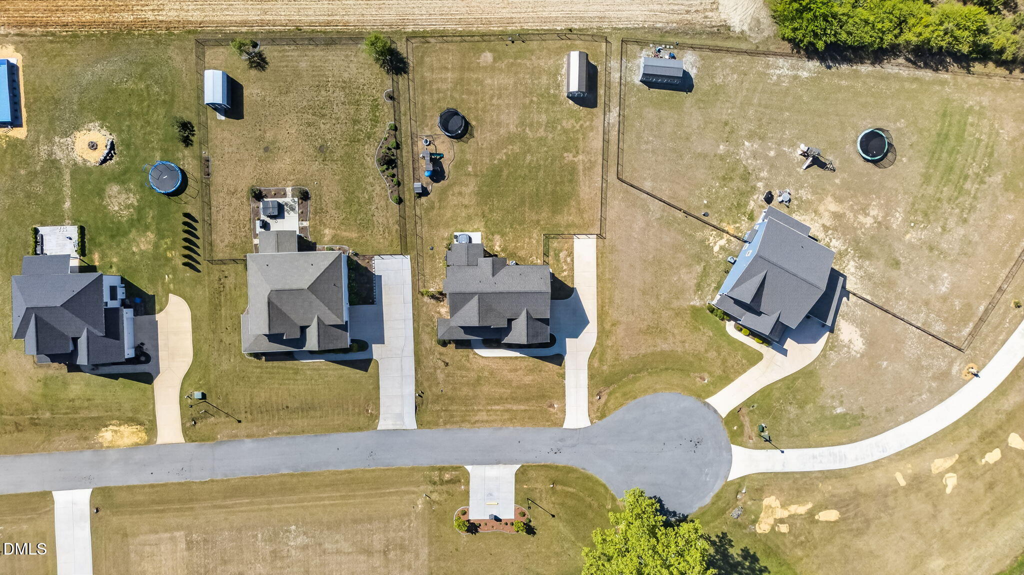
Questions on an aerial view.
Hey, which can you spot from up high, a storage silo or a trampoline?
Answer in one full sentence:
The image shows a trampoline.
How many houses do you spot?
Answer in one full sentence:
My tally gives 4 houses in this view.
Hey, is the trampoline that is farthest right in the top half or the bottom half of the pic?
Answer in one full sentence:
Seen from above, the trampoline that is farthest right lies in the top half of the view.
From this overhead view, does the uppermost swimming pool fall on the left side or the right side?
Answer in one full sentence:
The uppermost swimming pool sits on the left side.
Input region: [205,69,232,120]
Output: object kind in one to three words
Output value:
shed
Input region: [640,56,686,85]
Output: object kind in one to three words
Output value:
shed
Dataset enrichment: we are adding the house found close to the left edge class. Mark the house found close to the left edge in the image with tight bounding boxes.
[12,254,134,366]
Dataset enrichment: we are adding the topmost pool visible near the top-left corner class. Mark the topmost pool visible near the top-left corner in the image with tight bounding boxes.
[0,59,22,130]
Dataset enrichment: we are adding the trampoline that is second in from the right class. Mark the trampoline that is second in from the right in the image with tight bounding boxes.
[438,106,468,138]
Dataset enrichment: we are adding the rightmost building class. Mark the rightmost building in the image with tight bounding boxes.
[712,206,844,343]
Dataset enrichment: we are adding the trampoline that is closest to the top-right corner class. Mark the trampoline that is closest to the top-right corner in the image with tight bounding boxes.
[855,126,897,163]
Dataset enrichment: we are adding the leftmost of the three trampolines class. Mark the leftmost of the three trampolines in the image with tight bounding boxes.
[141,158,185,195]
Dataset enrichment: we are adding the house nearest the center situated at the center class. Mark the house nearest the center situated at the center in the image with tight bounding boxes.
[438,243,551,345]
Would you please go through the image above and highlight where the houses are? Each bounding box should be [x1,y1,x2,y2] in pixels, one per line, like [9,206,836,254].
[12,254,134,366]
[241,230,352,353]
[438,243,551,345]
[712,206,844,343]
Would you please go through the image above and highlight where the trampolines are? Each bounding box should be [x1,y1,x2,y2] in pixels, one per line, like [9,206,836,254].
[855,126,897,163]
[141,158,185,195]
[438,106,468,138]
